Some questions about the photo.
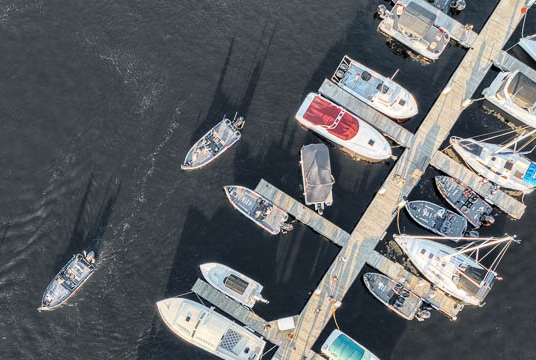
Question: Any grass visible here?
No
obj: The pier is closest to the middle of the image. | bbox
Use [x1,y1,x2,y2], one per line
[254,177,349,246]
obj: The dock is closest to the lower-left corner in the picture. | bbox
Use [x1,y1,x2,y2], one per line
[191,277,286,344]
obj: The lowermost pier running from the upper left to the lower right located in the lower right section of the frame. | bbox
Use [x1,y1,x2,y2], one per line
[365,249,463,320]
